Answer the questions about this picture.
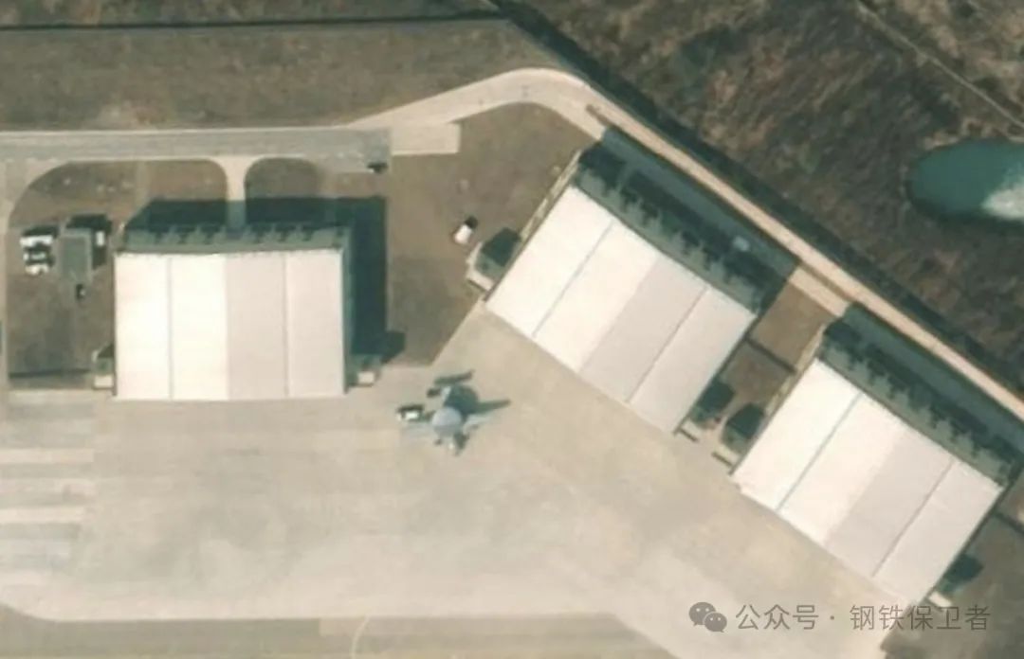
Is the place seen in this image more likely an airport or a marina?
airport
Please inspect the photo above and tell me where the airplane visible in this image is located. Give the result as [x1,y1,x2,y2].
[402,388,497,448]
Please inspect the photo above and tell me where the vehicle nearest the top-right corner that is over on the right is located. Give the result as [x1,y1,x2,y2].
[731,235,749,250]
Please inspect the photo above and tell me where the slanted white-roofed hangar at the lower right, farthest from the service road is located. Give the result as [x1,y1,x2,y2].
[731,330,1011,607]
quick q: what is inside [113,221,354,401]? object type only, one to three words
hangar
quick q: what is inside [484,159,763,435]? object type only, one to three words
hangar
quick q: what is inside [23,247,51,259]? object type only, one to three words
vehicle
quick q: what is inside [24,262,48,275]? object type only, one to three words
vehicle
